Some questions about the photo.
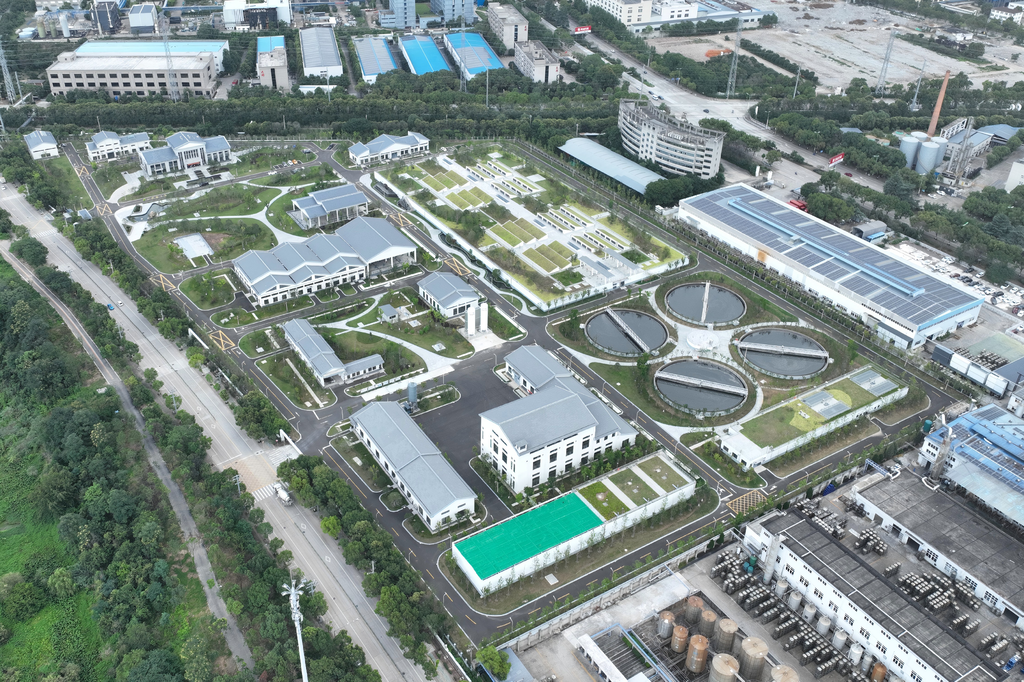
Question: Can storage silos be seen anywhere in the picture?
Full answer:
Yes, a storage silo appears in the view.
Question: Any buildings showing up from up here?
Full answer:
Yes, a building is visible in the scene.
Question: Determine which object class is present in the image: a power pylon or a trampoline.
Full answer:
Looking from above, you can make out a power pylon.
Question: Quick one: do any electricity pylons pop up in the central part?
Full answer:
No, I can find no electricity pylon in the central part.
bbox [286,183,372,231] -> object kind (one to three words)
building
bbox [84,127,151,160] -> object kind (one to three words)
house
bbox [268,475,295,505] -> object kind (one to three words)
truck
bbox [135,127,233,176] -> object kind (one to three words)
house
